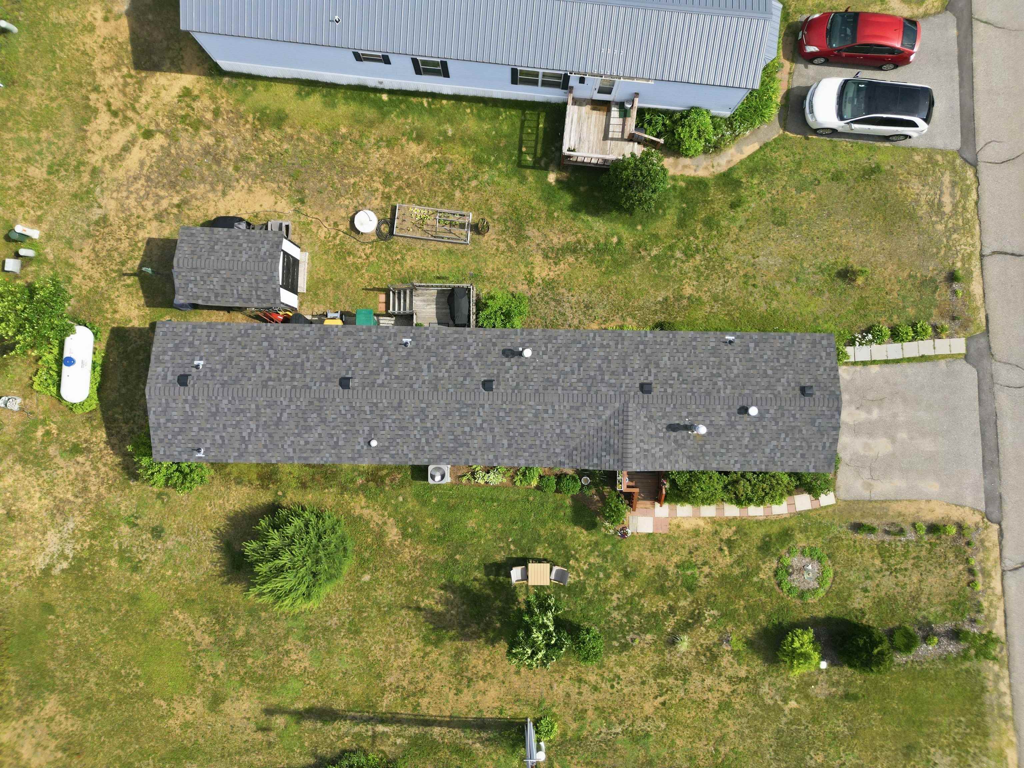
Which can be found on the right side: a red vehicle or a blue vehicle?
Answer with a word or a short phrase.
red vehicle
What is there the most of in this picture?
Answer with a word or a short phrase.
grass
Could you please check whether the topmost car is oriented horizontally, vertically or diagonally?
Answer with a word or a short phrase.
horizontally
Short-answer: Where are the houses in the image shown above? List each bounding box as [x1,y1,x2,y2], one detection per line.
[178,0,777,119]
[145,321,846,474]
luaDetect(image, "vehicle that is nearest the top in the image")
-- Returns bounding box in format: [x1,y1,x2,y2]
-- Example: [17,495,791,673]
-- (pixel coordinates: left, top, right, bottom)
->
[794,2,923,72]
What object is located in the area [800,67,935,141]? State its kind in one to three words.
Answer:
car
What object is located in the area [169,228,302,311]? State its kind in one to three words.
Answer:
shed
